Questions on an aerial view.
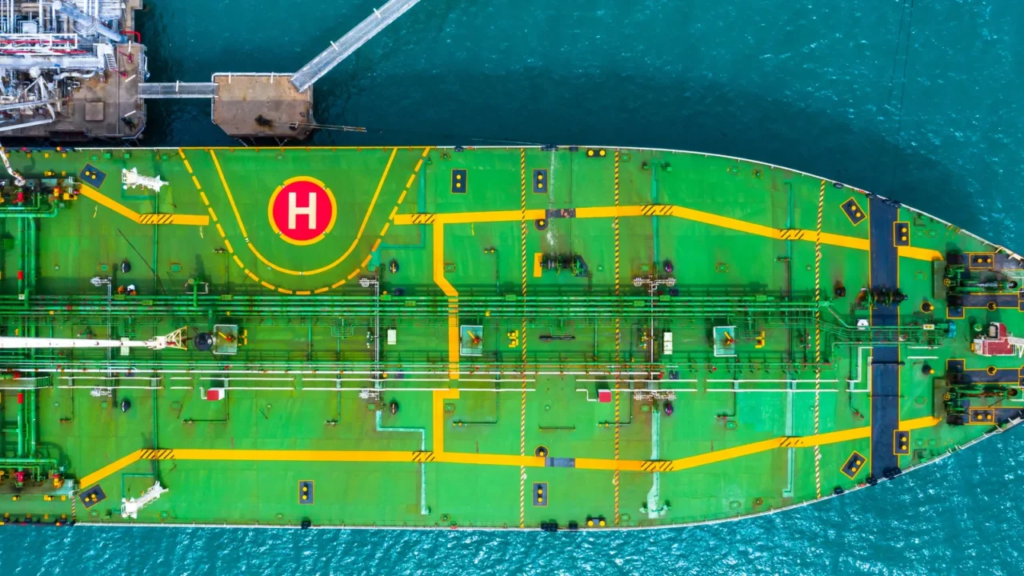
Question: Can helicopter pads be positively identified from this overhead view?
Yes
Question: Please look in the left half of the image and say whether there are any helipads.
Yes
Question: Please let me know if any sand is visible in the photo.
No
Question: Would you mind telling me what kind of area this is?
parking lot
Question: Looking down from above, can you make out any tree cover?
No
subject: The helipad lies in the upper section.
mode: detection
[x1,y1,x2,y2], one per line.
[179,149,426,294]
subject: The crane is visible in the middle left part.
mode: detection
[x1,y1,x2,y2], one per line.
[0,326,187,350]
